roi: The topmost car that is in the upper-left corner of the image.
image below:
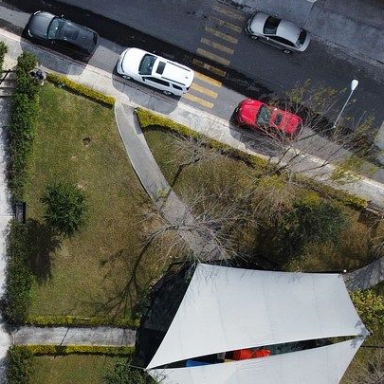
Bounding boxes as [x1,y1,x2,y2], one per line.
[29,9,101,60]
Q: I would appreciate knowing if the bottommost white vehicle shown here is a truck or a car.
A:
car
